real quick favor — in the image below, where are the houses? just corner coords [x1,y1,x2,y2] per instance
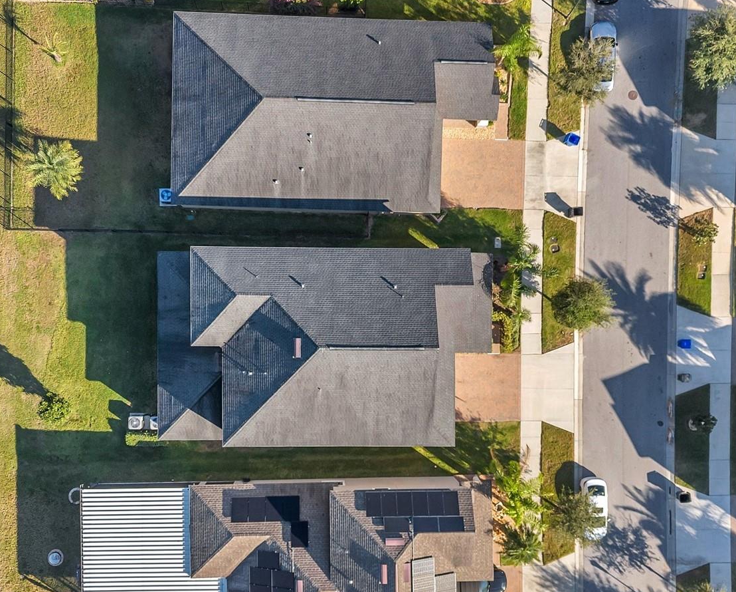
[157,245,494,448]
[188,475,493,592]
[170,10,498,215]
